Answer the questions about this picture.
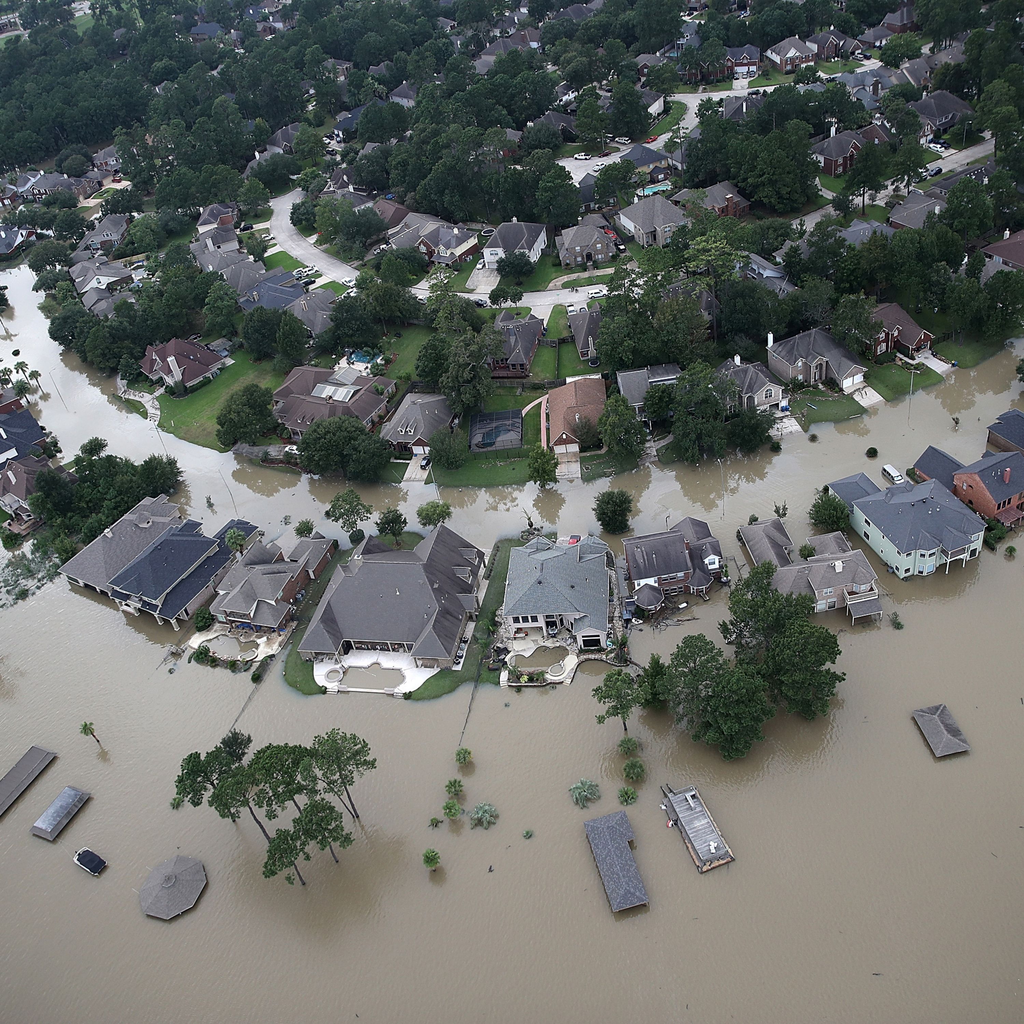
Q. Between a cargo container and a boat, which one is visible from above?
boat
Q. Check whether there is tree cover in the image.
Yes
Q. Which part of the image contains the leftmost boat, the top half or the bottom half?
bottom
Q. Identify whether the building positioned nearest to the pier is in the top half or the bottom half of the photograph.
bottom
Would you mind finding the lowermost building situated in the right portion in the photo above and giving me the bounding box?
[585,811,649,912]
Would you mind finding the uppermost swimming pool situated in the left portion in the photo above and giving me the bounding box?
[351,349,381,363]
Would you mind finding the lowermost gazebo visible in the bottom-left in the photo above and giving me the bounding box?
[141,859,204,916]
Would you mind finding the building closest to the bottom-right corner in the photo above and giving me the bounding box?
[914,704,970,758]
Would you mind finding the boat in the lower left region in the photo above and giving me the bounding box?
[74,847,107,872]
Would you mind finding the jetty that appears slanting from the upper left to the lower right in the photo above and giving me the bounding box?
[661,780,735,874]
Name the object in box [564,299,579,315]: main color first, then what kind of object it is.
white vehicle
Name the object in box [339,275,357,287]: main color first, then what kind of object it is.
white vehicle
